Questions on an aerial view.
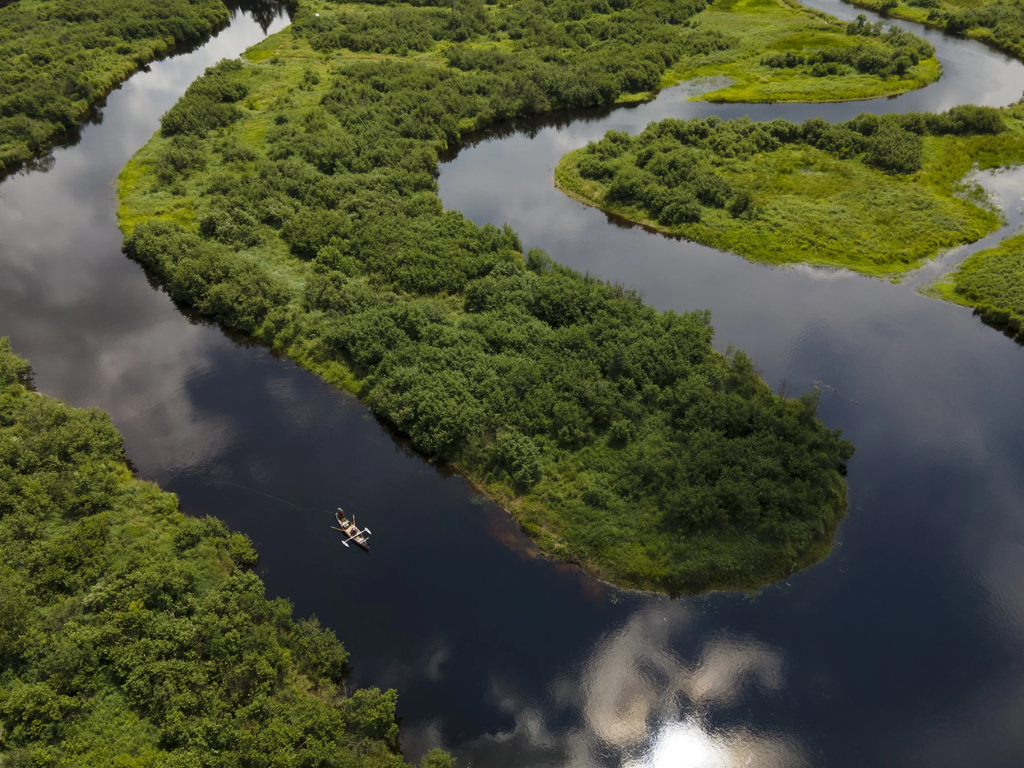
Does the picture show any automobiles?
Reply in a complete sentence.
No, the picture doesn't show any automobile.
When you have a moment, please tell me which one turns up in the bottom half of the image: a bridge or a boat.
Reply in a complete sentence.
There is a boat in the bottom half of the image.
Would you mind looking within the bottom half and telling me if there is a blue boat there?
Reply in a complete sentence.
No, I can find no blue boat within the bottom half.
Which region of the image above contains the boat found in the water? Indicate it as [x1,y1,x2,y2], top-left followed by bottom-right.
[331,512,371,550]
